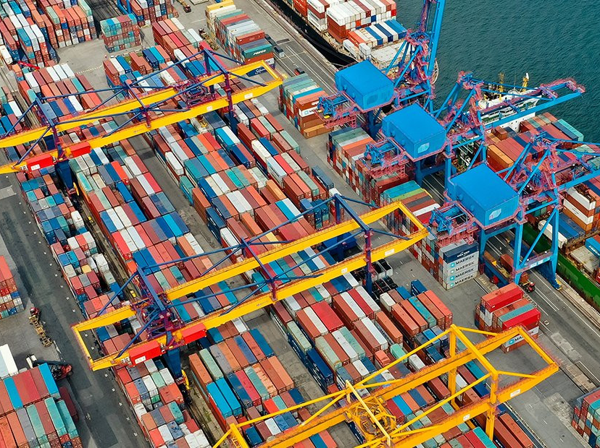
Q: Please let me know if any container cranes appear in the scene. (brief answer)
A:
Yes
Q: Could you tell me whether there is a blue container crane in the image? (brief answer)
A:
Yes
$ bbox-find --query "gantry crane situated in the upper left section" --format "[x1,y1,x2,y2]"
[0,48,286,193]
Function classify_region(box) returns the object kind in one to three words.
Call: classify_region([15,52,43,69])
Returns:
work vehicle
